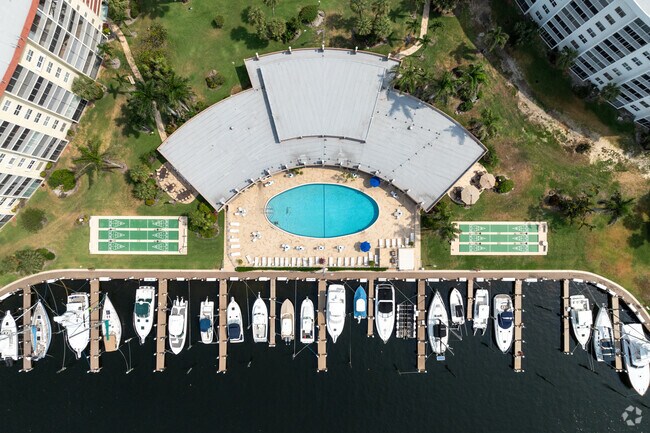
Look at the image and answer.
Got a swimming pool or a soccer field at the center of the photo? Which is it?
swimming pool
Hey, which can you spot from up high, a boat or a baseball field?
boat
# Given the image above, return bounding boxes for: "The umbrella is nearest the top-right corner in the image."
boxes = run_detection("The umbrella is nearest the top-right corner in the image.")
[480,174,495,189]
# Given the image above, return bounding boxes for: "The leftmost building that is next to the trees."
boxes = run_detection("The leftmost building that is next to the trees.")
[0,0,114,231]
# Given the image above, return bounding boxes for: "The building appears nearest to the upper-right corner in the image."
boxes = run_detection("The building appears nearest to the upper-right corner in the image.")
[515,0,650,130]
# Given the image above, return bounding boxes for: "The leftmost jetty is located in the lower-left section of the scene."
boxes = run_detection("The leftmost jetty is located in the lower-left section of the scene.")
[17,284,37,371]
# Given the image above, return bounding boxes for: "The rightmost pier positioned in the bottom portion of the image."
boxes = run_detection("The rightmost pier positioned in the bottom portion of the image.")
[608,295,627,371]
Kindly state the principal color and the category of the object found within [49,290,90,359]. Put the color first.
white boat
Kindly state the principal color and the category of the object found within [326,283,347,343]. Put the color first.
white boat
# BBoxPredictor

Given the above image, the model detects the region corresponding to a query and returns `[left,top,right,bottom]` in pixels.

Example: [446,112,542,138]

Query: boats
[133,283,157,345]
[77,294,123,350]
[620,318,650,397]
[591,305,650,361]
[326,283,347,343]
[199,298,216,343]
[569,293,592,350]
[374,283,396,342]
[449,288,465,326]
[167,297,190,355]
[300,296,316,343]
[279,299,295,344]
[0,312,22,363]
[425,290,458,359]
[49,290,90,359]
[354,286,367,321]
[490,291,514,354]
[0,303,53,359]
[472,289,490,333]
[251,293,269,343]
[225,297,244,344]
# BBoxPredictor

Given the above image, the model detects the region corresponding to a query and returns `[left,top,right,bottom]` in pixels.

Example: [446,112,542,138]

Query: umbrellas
[461,186,479,204]
[480,174,495,189]
[360,241,371,252]
[370,177,381,187]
